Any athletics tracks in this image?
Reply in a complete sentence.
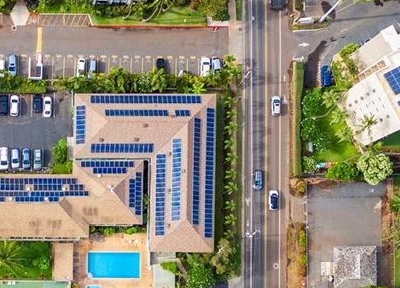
No, the frame has no athletics track in it.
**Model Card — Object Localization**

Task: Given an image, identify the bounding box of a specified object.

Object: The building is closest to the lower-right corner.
[329,246,377,288]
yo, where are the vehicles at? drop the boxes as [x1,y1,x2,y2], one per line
[89,57,96,73]
[43,97,52,118]
[77,57,85,74]
[34,150,42,169]
[156,55,165,74]
[22,148,31,168]
[34,95,42,114]
[271,96,281,116]
[8,55,17,77]
[253,170,263,191]
[320,66,331,87]
[0,148,9,169]
[268,190,279,211]
[212,56,221,73]
[269,0,282,11]
[200,56,211,72]
[0,56,5,70]
[0,95,8,116]
[11,148,19,168]
[10,95,19,116]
